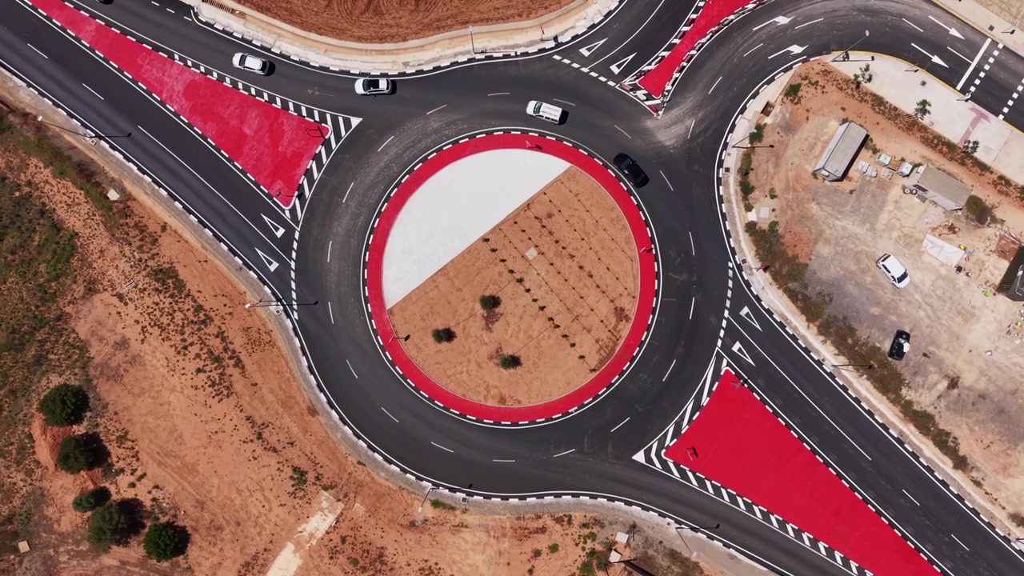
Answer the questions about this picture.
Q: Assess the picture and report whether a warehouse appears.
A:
No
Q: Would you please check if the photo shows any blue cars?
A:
No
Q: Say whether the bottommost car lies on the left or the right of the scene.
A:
right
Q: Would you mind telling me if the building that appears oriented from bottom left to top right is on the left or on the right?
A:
right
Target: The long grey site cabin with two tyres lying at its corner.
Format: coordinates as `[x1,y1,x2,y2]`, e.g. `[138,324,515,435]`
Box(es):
[905,165,972,210]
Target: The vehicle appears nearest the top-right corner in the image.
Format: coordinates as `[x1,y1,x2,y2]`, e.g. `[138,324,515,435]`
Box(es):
[877,254,908,287]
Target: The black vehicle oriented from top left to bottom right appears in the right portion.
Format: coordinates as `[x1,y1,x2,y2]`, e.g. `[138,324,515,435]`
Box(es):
[616,153,649,189]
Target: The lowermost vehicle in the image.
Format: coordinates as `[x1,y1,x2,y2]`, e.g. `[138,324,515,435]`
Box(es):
[886,329,910,362]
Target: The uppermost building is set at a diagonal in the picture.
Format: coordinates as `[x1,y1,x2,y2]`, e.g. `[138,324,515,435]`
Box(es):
[814,123,867,180]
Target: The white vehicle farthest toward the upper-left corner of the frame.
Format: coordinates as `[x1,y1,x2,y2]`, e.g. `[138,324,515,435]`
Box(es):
[232,52,272,76]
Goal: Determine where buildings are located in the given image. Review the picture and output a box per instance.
[997,246,1024,301]
[905,165,972,210]
[814,123,867,180]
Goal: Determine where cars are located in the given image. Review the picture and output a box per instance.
[886,329,910,362]
[232,52,272,76]
[355,76,393,96]
[616,153,649,189]
[877,254,908,287]
[526,101,565,125]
